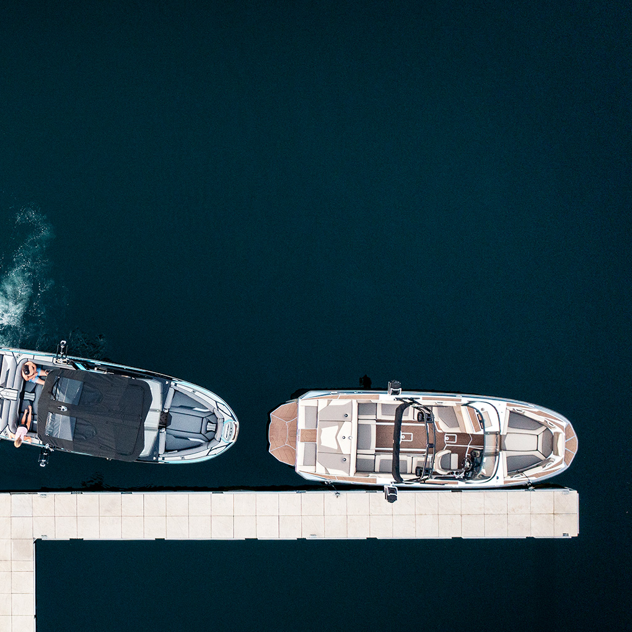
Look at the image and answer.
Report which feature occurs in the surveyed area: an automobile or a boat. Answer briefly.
boat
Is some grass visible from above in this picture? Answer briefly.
No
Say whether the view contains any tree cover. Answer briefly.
No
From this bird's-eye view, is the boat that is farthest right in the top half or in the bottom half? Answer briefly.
bottom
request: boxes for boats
[0,340,239,467]
[267,380,579,503]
